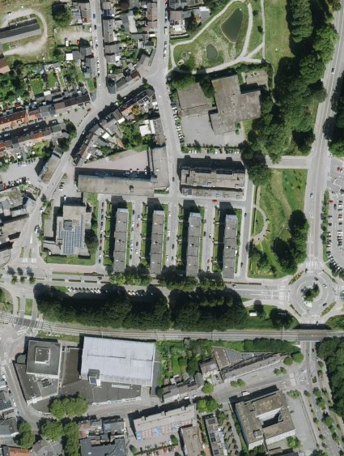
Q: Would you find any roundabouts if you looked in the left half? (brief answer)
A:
No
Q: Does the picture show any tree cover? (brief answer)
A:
Yes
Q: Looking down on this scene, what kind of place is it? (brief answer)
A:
residential area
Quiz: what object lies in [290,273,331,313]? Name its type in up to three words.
roundabout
